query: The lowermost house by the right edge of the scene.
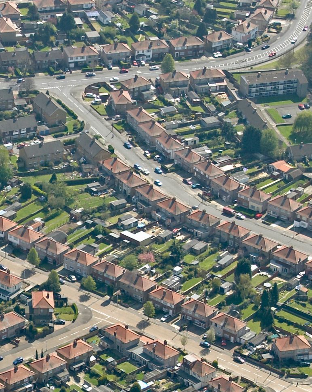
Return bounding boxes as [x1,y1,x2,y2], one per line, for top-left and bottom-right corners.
[272,339,311,370]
